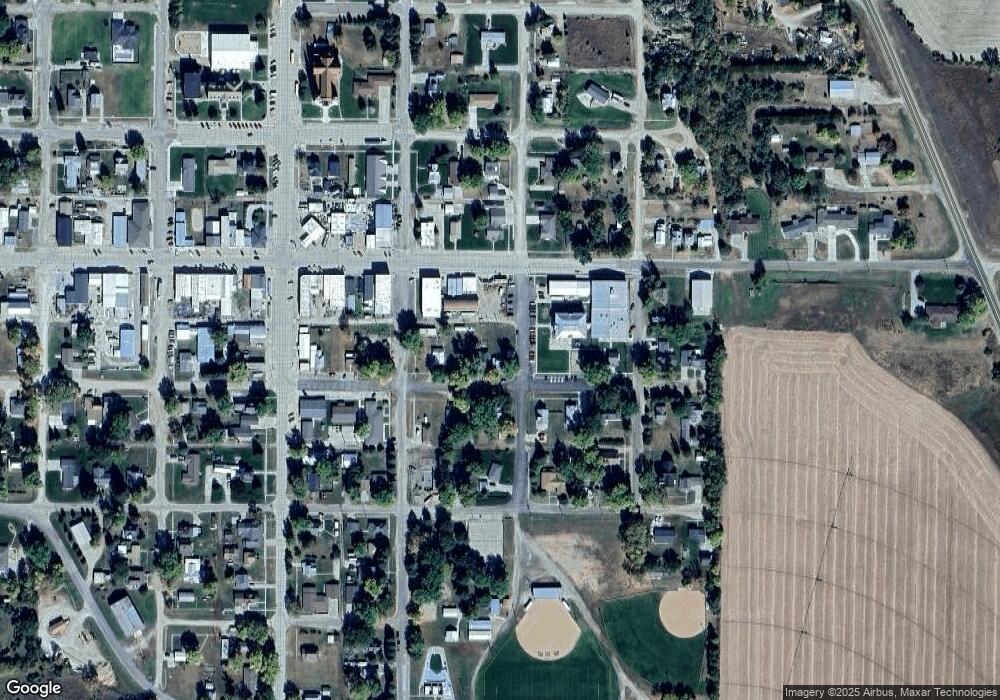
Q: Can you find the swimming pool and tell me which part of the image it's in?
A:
bottom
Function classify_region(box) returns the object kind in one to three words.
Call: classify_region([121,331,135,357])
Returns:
barn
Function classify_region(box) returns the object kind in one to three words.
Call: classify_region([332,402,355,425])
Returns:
building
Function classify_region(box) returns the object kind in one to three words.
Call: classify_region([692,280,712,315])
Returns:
barn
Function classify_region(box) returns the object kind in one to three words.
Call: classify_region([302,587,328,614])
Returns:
house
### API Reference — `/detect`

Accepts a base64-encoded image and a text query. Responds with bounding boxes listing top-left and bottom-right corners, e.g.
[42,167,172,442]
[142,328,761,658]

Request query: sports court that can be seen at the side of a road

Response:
[469,518,503,562]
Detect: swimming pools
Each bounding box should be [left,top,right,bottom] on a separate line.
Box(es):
[418,646,455,700]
